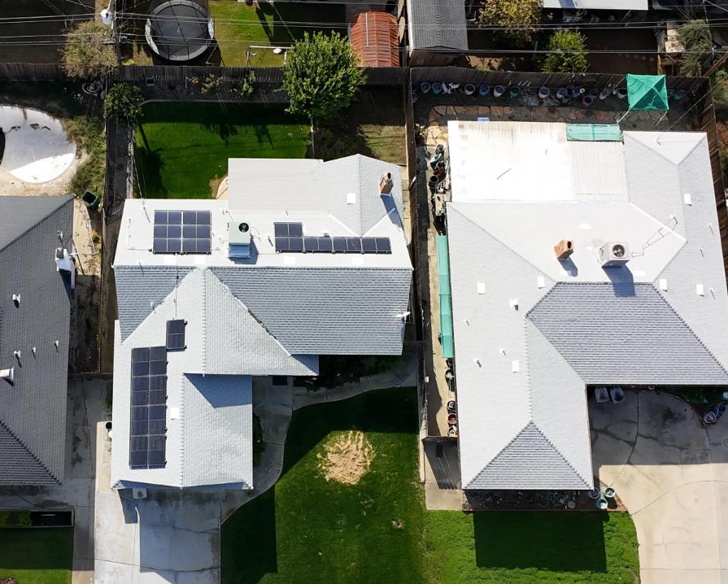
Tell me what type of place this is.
residential area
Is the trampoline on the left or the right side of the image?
left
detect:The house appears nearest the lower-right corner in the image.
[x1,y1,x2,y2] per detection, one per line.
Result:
[438,120,728,491]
